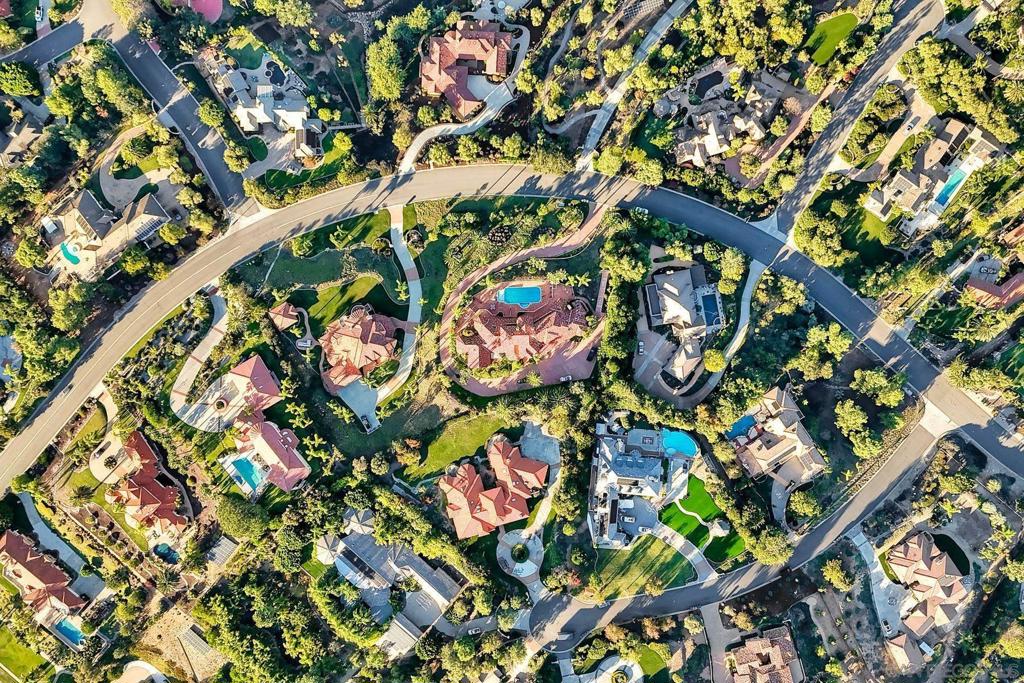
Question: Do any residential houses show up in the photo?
Yes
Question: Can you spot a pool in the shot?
Yes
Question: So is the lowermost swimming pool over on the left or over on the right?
left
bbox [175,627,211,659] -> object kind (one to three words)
solar array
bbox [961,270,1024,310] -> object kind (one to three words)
house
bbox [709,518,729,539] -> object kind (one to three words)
gazebo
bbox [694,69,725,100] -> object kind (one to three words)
swimming pool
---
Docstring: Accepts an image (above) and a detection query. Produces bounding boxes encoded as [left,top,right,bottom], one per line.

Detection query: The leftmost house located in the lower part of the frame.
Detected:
[0,526,90,617]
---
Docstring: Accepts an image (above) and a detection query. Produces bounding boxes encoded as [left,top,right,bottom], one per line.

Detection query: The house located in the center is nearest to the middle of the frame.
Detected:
[460,300,589,368]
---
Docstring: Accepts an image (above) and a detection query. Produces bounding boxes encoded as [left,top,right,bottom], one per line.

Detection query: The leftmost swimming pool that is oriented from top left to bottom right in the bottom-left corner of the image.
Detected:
[53,618,86,647]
